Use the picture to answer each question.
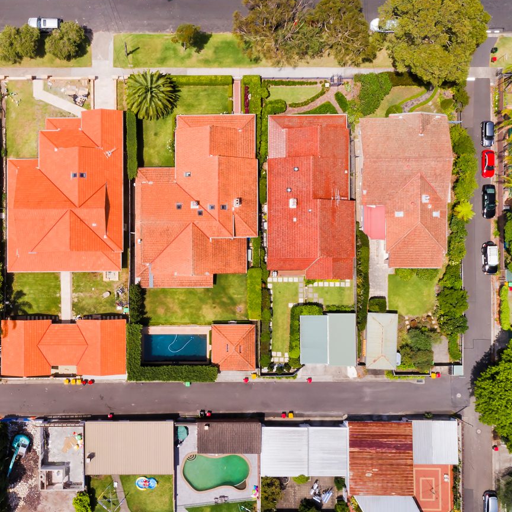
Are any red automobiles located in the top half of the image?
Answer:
Yes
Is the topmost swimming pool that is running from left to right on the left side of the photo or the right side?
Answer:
left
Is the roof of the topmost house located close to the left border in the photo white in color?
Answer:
No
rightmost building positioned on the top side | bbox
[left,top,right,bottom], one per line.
[357,111,455,268]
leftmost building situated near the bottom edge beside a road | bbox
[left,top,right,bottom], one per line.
[36,421,87,491]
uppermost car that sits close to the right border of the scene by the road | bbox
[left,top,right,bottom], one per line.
[479,121,495,148]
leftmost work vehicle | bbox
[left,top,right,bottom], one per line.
[5,428,33,481]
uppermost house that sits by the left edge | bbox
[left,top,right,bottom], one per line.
[6,107,123,273]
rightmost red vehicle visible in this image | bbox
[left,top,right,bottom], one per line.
[479,149,495,179]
